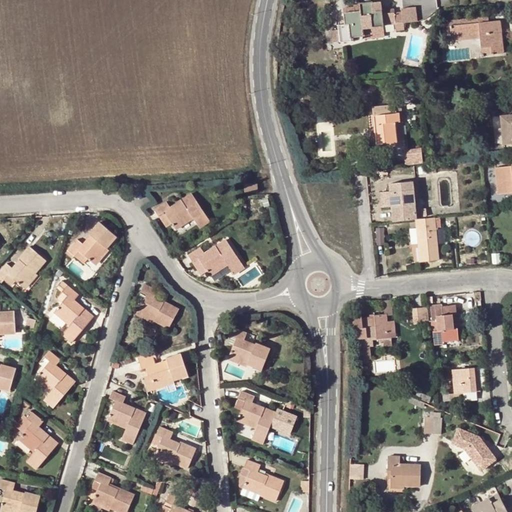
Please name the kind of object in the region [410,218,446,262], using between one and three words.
house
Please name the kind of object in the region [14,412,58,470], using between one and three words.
house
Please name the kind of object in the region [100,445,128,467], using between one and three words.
swimming pool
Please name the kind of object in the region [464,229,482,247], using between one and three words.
swimming pool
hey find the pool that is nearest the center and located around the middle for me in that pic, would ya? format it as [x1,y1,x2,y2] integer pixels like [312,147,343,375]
[236,266,262,287]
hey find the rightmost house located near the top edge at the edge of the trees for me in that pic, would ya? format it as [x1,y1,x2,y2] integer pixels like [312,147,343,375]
[452,17,504,55]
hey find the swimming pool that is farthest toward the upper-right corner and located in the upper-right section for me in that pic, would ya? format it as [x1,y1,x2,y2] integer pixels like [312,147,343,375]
[448,46,472,62]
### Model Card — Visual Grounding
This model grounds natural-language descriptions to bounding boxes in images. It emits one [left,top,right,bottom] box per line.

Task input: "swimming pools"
[448,46,472,62]
[437,177,452,208]
[100,445,128,467]
[157,384,188,405]
[224,362,246,381]
[404,32,425,63]
[236,266,262,287]
[285,496,305,512]
[66,261,87,279]
[320,130,334,153]
[464,229,482,247]
[374,358,396,375]
[2,337,22,352]
[176,420,202,439]
[269,433,298,456]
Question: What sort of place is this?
residential area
